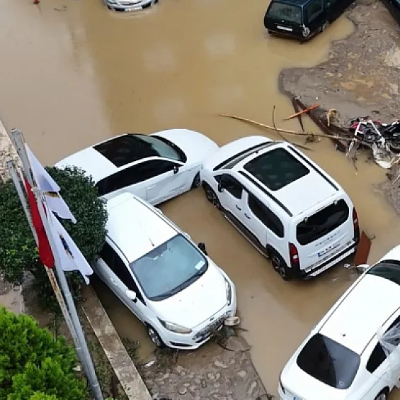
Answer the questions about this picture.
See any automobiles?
Yes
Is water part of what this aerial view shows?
Yes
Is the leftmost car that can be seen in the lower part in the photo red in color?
No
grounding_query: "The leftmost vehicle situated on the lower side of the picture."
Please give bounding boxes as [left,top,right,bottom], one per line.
[92,191,233,338]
